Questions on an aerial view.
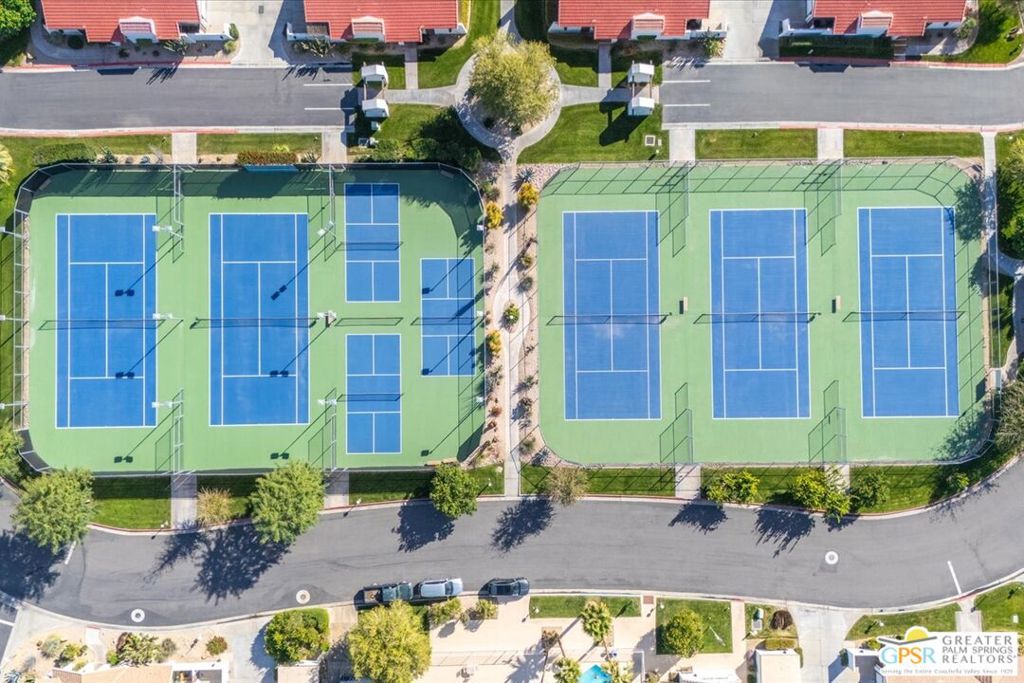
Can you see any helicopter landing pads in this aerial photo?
No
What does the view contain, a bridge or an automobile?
automobile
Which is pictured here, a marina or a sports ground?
sports ground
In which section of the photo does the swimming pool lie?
bottom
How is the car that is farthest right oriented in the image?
horizontally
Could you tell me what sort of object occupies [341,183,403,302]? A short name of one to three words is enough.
sports court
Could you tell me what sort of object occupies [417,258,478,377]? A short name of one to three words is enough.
sports court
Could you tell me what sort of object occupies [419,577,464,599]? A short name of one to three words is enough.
car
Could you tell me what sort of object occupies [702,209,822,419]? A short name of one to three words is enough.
tennis court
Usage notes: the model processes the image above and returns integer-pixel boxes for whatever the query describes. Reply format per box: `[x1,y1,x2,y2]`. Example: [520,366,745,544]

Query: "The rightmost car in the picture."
[486,576,529,598]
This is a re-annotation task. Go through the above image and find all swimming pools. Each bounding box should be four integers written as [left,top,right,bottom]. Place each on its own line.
[577,663,607,683]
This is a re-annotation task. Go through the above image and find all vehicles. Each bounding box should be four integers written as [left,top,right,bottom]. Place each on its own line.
[486,576,529,598]
[362,581,415,604]
[419,577,464,599]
